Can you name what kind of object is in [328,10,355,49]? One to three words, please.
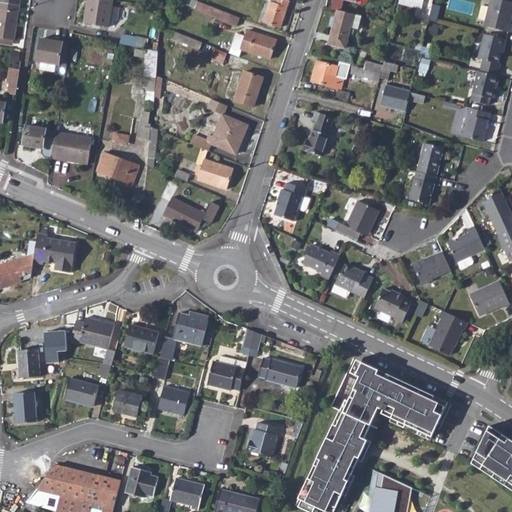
house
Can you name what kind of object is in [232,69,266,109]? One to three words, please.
house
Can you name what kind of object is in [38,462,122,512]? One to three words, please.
building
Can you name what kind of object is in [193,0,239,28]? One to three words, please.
shed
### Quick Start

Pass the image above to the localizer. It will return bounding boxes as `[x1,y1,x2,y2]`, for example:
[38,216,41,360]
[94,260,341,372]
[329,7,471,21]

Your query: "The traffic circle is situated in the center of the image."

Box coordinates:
[198,248,256,306]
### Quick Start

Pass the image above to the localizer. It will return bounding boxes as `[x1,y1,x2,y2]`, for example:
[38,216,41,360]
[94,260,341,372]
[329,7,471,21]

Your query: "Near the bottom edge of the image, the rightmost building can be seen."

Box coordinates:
[470,426,512,493]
